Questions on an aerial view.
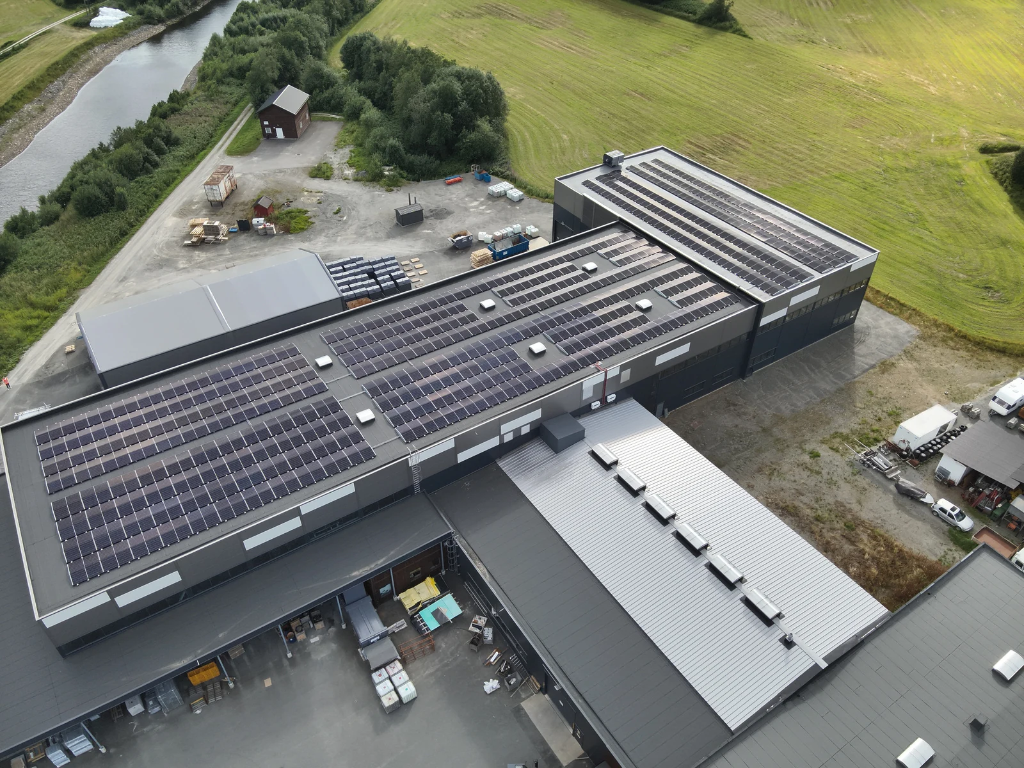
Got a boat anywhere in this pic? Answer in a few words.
Yes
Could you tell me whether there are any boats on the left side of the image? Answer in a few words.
No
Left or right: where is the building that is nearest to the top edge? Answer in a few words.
left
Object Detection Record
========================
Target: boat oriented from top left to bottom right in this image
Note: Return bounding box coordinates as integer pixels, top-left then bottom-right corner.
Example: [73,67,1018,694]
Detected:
[895,467,937,495]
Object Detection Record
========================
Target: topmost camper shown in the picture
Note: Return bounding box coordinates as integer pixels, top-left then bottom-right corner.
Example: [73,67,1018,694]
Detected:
[988,377,1024,417]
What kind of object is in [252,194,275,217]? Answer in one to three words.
shed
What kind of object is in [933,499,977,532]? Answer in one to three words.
car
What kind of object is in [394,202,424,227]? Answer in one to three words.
shed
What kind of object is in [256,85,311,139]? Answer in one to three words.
building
